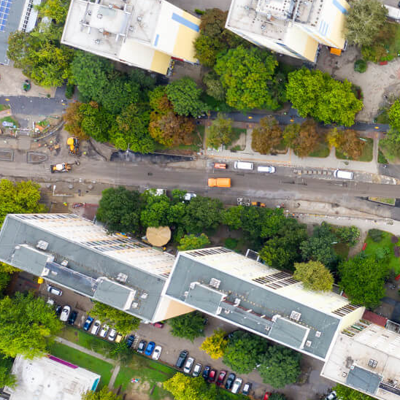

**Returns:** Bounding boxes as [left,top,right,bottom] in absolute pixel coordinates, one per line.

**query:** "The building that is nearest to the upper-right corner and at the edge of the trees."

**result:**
[225,0,351,66]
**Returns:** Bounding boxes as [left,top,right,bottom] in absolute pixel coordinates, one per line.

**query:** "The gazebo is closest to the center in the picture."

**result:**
[146,225,173,248]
